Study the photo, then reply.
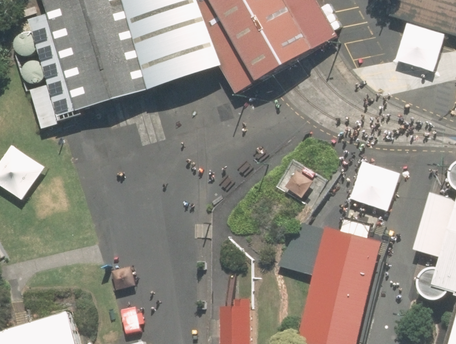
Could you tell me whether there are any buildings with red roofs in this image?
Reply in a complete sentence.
Yes, looking at the shot, I can spot a building with a red roof.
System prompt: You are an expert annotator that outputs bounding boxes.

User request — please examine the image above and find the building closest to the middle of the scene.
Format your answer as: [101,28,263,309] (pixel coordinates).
[285,170,315,198]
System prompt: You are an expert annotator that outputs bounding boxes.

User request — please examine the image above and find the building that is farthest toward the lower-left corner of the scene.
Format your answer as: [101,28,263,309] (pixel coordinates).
[0,311,74,344]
